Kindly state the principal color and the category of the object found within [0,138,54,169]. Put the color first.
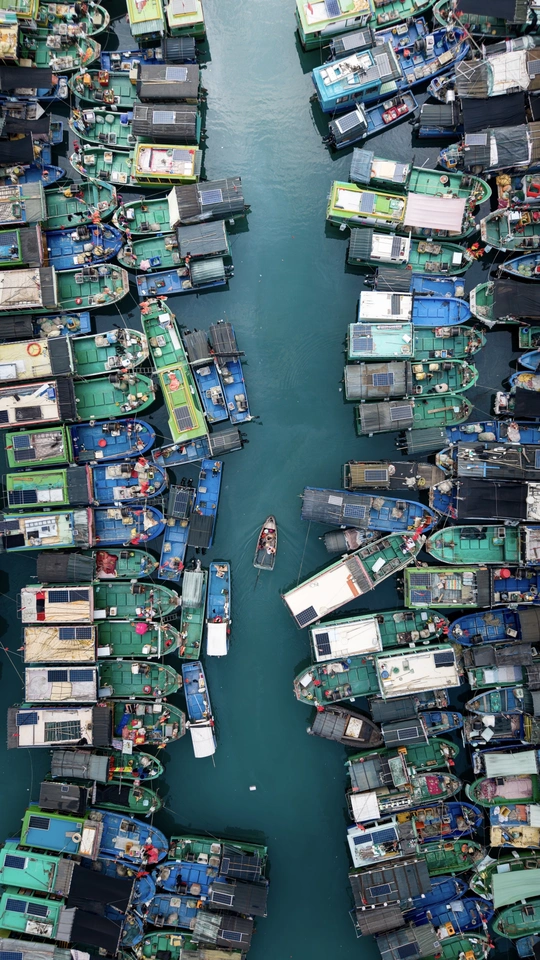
black boat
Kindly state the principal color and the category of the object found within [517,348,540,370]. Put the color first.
blue boat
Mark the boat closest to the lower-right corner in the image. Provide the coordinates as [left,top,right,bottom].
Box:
[515,936,540,956]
